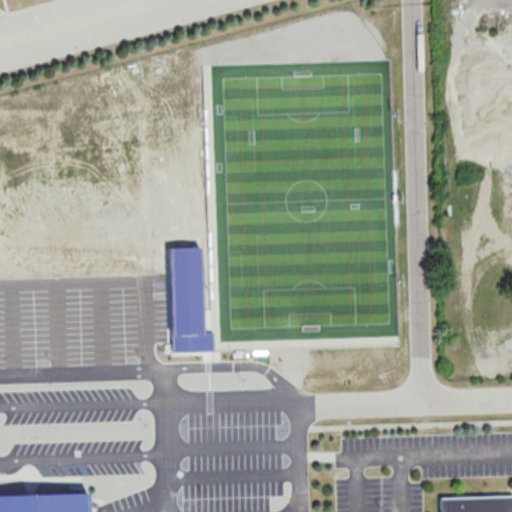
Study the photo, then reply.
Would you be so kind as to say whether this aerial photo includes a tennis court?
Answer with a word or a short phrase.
No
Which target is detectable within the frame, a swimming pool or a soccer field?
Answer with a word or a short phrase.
soccer field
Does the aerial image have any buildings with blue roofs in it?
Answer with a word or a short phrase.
Yes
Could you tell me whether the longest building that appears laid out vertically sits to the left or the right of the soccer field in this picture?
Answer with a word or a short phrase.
to its left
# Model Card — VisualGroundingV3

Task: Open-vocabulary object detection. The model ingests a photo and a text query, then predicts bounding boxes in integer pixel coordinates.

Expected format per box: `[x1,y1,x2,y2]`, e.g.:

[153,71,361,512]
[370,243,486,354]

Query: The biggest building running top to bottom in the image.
[164,248,214,354]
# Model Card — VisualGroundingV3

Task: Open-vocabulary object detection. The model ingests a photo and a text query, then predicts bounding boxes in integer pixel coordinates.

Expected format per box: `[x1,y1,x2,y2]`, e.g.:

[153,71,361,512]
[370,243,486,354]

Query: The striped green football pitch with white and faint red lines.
[212,60,398,342]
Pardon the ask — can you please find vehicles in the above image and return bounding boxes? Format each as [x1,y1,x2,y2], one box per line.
[448,205,452,217]
[417,20,425,72]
